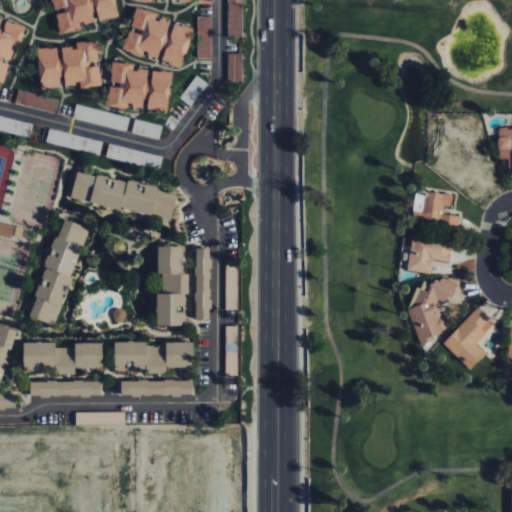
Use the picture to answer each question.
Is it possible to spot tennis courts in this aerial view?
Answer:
Yes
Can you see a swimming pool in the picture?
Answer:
Yes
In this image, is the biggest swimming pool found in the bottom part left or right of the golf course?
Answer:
to the left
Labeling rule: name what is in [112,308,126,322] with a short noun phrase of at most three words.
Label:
gazebo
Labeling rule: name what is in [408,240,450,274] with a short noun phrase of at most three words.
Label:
house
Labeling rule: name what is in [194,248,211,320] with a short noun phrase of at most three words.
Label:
building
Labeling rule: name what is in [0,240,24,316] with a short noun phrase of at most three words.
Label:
tennis court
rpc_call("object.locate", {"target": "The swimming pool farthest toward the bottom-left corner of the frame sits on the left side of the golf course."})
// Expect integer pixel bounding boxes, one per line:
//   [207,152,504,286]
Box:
[76,290,123,332]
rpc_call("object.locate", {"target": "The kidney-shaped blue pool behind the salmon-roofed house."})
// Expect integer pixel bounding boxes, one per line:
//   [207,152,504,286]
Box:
[482,112,512,136]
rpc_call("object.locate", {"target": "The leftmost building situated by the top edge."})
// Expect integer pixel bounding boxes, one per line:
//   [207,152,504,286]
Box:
[0,18,28,86]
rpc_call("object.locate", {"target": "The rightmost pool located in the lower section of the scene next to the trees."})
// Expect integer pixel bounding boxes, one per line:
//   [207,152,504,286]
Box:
[480,330,497,359]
